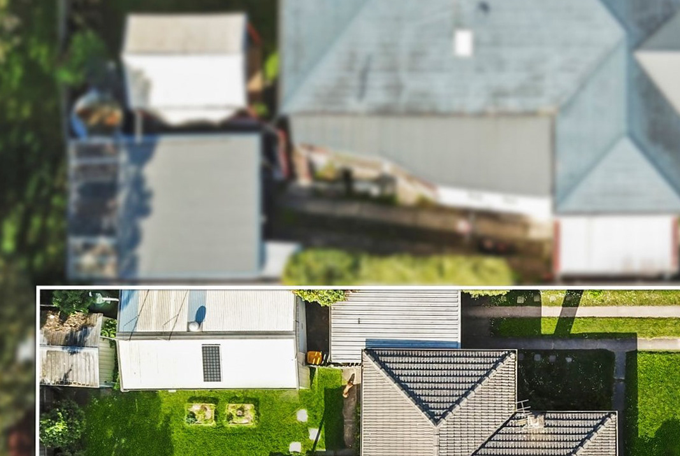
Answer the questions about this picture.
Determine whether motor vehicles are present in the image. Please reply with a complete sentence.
No, the scene contains no motor vehicle.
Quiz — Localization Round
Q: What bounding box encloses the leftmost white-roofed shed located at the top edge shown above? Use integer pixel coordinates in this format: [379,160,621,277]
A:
[121,14,256,127]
